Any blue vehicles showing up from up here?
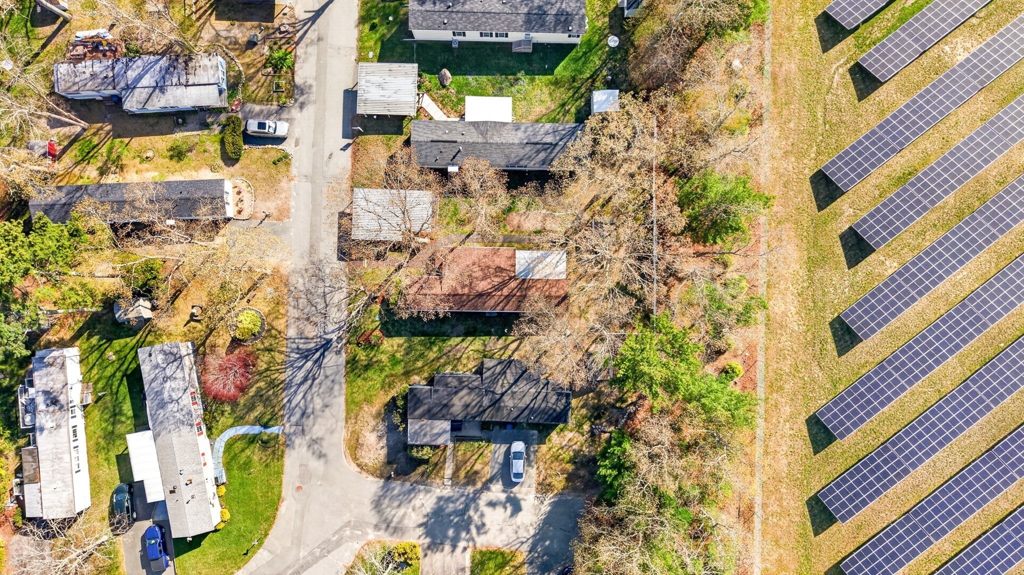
Yes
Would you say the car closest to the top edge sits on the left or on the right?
left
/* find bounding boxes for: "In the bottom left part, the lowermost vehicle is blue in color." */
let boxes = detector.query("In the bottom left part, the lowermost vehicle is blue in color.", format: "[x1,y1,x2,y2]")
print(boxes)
[142,524,170,573]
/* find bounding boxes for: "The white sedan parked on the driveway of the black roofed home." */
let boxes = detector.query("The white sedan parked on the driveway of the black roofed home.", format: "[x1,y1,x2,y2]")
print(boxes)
[508,439,528,483]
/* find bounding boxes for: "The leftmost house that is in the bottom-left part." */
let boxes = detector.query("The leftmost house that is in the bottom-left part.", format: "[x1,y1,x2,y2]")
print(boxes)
[3,348,90,520]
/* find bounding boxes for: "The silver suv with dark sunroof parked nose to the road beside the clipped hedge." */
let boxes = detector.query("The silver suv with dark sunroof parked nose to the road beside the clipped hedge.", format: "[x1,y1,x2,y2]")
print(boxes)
[244,117,291,139]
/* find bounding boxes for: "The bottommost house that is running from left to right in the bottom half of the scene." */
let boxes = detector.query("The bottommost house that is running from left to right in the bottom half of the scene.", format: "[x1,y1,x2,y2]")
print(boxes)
[407,357,572,445]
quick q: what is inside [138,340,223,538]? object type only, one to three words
house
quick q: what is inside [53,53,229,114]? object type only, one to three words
house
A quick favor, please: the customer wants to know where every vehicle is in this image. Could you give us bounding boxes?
[244,117,291,139]
[508,439,528,483]
[561,565,578,575]
[111,482,136,523]
[142,524,170,573]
